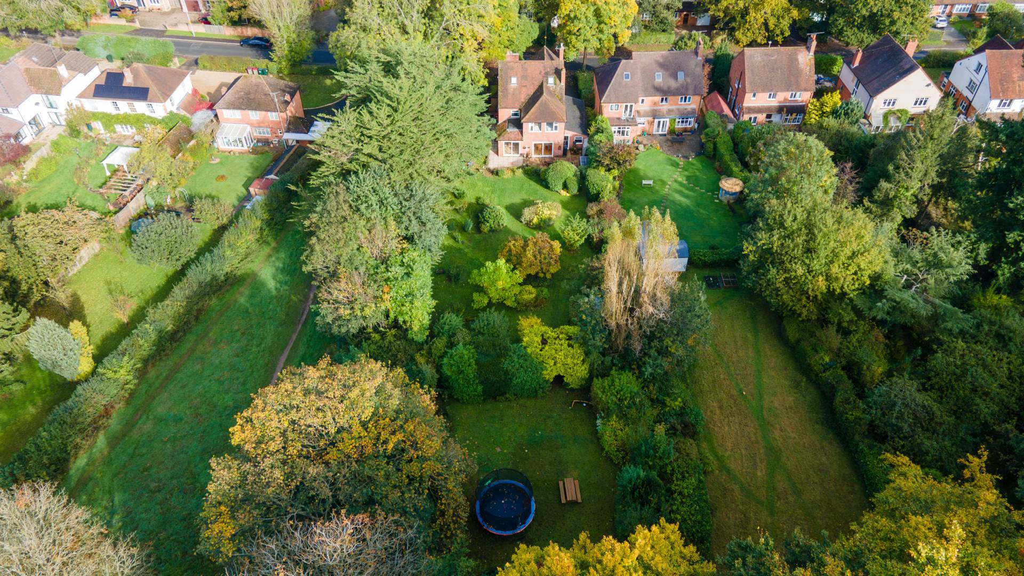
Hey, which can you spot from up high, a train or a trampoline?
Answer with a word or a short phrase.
trampoline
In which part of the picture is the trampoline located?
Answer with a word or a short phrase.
bottom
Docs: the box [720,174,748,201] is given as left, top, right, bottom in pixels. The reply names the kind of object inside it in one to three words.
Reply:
building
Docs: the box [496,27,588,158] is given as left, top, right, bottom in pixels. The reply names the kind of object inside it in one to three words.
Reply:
house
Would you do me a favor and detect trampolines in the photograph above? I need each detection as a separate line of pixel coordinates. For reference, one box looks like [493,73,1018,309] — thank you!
[474,471,536,549]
